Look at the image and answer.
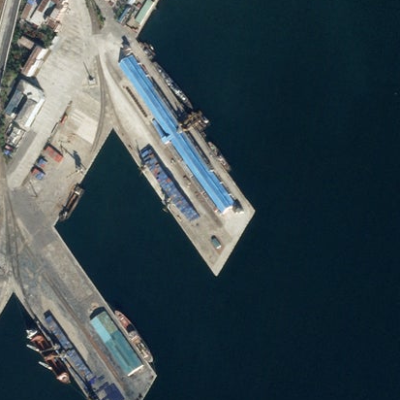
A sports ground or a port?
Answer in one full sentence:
This image shows a port.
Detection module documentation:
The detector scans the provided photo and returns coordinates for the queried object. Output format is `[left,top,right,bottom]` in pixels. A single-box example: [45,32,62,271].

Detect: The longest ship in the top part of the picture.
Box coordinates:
[153,63,193,109]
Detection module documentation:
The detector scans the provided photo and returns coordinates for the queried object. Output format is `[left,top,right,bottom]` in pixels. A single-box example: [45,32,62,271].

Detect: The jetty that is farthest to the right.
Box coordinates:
[113,39,255,276]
